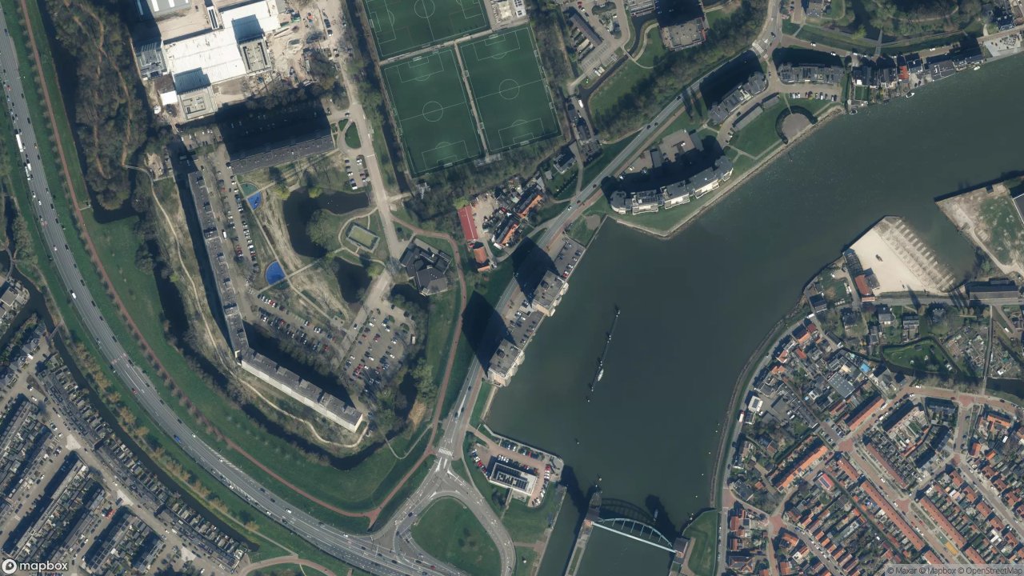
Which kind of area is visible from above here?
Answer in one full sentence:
It's a residential area.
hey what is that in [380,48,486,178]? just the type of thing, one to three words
soccer field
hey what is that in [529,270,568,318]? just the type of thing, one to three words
building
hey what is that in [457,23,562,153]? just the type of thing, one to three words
soccer field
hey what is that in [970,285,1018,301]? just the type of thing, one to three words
house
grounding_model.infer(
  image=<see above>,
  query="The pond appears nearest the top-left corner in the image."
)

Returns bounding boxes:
[283,189,371,304]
